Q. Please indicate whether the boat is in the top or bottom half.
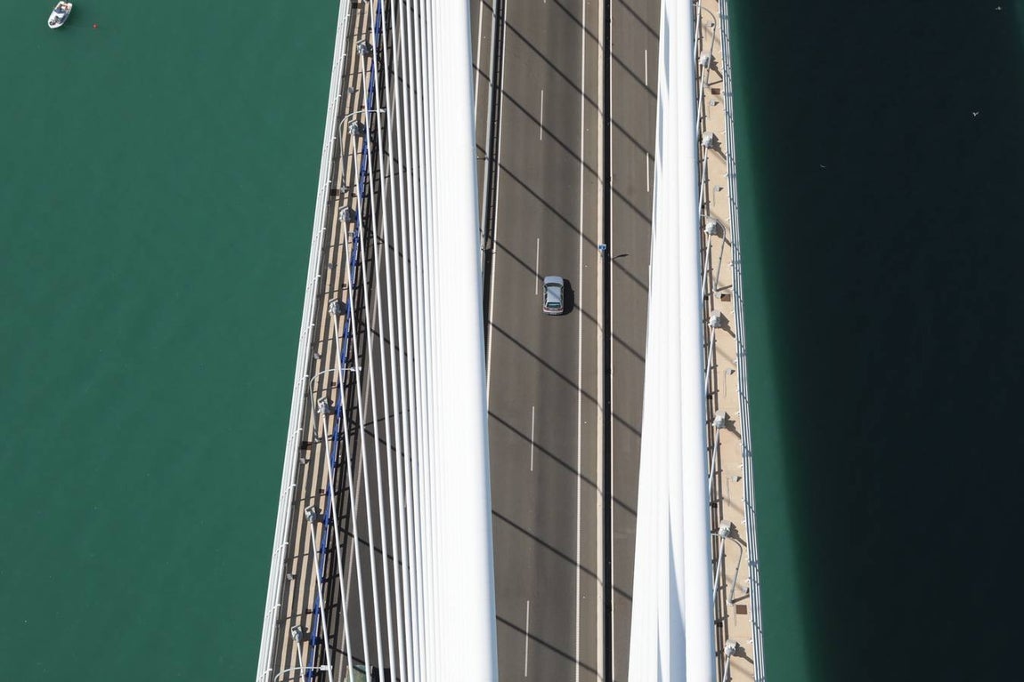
top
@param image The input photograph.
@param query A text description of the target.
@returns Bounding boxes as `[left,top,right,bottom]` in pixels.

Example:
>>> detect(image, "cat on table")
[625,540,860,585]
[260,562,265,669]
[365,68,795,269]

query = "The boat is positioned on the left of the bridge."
[49,0,72,30]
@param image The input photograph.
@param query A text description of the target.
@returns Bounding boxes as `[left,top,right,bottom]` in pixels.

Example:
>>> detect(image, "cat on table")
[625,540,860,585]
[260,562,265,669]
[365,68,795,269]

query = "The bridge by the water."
[263,0,764,682]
